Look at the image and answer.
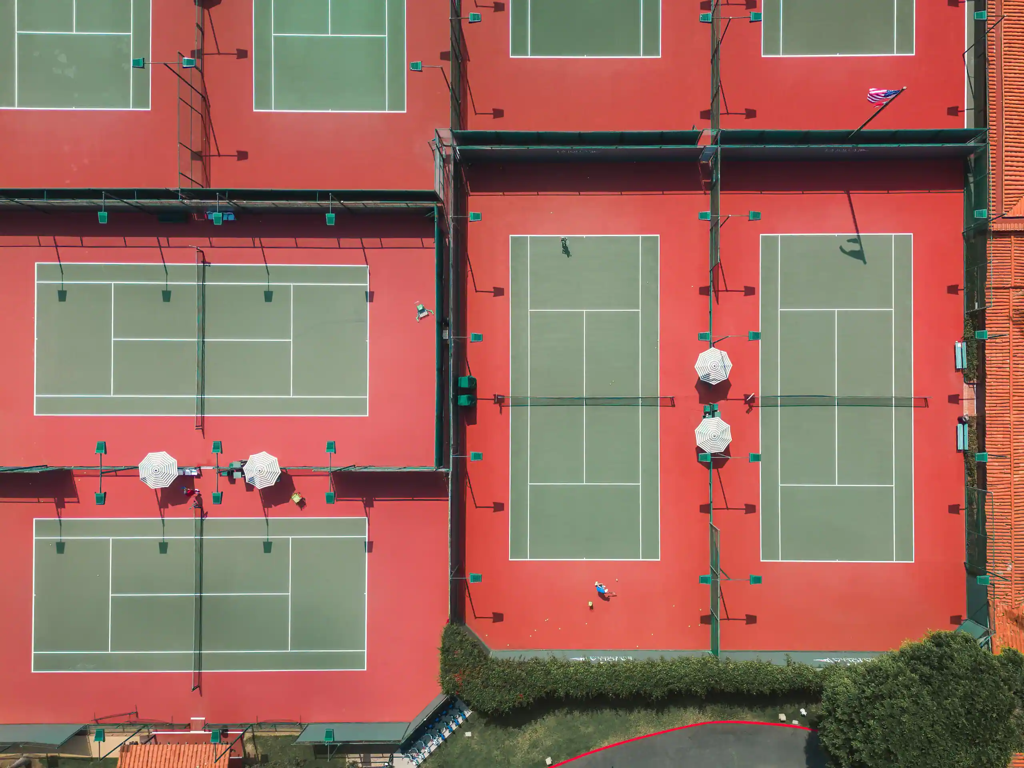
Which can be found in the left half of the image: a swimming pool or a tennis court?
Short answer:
tennis court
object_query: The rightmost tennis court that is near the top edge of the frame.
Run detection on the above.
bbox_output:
[721,0,966,147]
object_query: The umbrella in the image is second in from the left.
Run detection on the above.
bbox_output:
[246,450,285,488]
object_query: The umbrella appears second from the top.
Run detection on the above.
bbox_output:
[693,416,732,454]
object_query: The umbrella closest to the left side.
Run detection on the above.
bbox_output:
[142,451,180,488]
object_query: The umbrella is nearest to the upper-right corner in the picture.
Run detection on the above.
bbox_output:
[693,347,732,386]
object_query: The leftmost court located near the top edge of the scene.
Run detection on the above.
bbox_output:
[0,0,202,191]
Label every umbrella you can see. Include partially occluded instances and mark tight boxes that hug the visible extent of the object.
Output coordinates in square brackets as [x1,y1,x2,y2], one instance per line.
[142,451,180,488]
[693,347,732,386]
[246,450,285,488]
[693,416,732,454]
